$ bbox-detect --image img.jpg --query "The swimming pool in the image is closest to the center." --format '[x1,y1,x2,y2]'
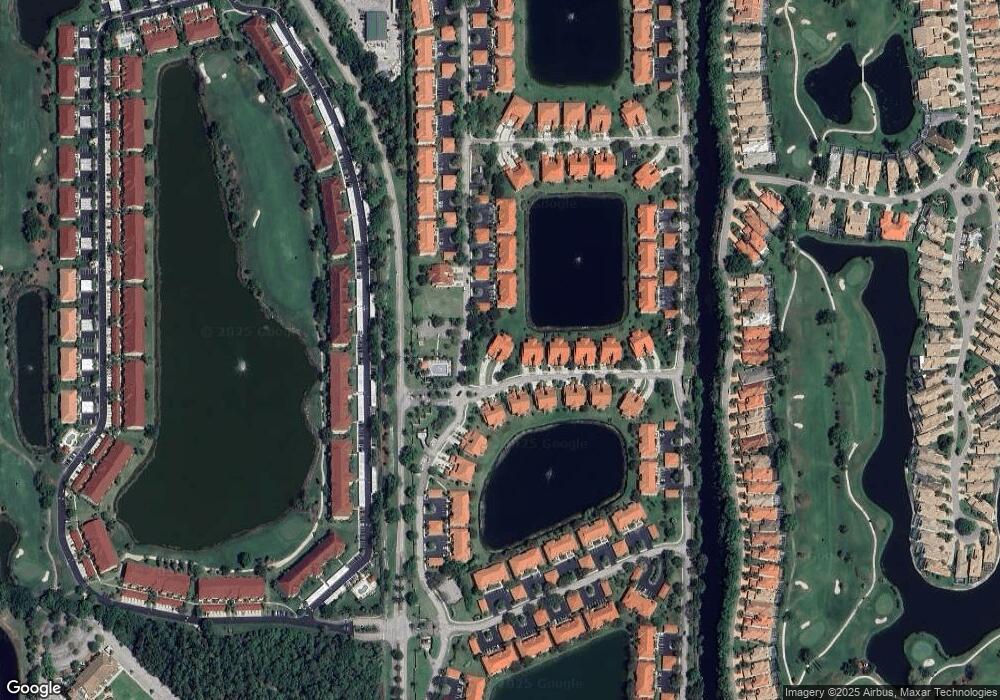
[420,358,451,376]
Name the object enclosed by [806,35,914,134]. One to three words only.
pond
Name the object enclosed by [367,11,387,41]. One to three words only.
building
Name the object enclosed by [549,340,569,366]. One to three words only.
house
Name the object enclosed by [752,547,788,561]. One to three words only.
house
